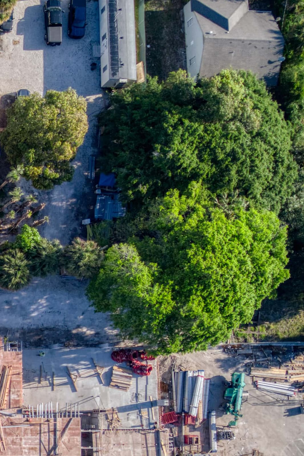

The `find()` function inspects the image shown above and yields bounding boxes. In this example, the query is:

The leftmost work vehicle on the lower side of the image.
[216,369,252,419]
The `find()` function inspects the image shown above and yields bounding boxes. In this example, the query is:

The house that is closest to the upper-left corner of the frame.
[95,0,137,92]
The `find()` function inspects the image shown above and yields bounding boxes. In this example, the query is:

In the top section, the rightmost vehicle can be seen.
[67,0,87,39]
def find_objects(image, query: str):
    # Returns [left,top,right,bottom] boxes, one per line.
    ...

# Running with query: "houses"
[185,0,292,88]
[95,0,137,92]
